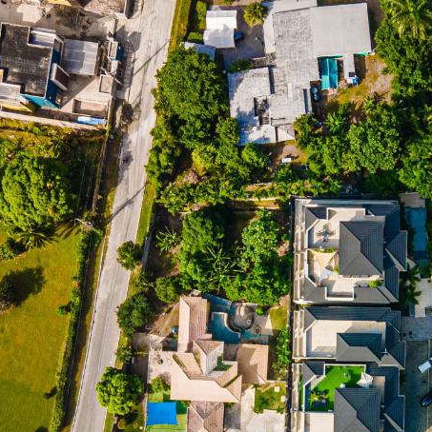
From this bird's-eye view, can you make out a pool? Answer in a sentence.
Yes, the picture does show a pool.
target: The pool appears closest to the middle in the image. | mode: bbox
[206,294,231,312]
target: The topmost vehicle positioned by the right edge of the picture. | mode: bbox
[417,356,432,374]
